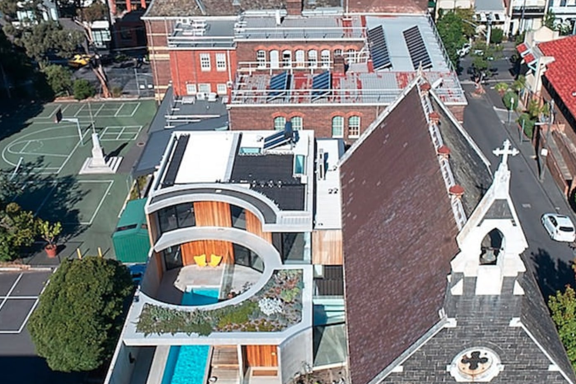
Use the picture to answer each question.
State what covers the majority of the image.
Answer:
buildings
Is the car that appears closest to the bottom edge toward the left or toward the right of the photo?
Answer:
right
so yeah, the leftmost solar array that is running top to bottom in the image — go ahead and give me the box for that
[369,26,392,69]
